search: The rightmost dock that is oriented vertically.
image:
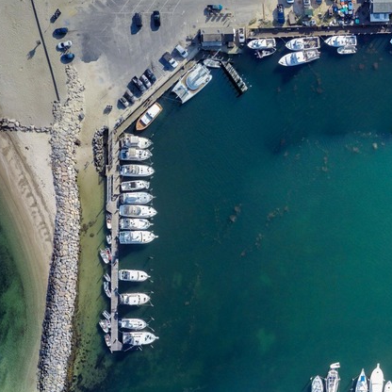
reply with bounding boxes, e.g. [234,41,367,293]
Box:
[106,131,124,353]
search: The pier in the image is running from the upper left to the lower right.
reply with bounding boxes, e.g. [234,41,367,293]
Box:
[218,60,251,98]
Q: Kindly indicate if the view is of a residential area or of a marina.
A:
marina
